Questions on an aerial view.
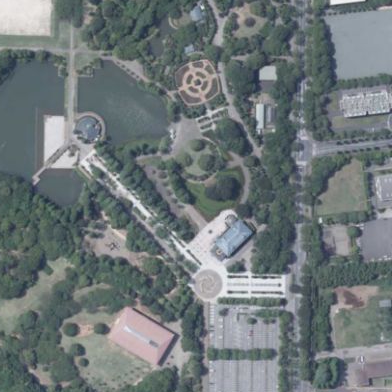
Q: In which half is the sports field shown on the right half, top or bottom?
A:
top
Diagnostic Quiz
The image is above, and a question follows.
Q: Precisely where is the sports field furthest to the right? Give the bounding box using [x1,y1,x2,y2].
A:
[328,11,392,80]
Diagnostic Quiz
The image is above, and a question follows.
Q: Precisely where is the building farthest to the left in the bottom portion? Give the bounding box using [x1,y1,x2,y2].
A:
[108,306,179,368]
